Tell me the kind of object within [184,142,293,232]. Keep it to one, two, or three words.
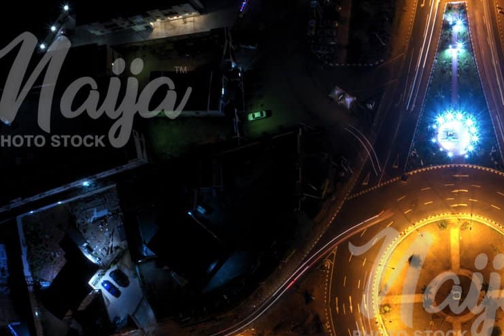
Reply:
house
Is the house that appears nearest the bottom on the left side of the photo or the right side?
left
